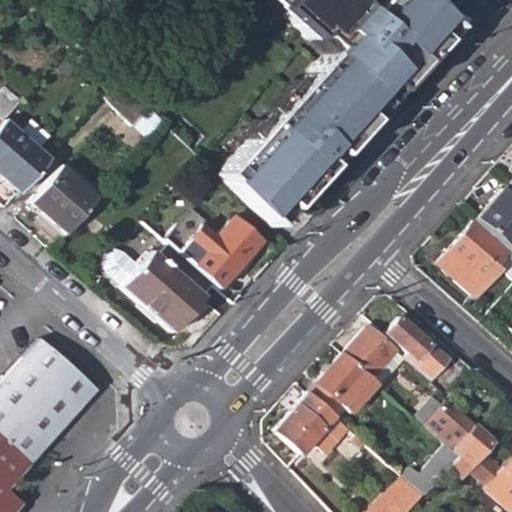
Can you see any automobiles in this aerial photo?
Yes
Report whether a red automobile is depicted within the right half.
No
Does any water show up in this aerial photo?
No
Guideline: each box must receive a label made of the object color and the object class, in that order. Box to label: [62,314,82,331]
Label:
white car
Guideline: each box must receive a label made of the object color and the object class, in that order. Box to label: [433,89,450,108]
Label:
white vehicle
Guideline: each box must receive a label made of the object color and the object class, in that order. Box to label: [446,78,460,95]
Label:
white car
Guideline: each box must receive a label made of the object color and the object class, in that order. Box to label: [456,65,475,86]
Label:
gray car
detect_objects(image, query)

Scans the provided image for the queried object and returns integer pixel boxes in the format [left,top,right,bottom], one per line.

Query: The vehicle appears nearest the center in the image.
[350,208,370,230]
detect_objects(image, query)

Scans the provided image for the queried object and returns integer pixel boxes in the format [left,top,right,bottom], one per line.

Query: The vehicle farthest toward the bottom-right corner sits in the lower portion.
[473,352,492,370]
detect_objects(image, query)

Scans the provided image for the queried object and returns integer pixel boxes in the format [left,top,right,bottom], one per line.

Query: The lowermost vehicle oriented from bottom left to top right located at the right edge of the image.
[476,178,498,198]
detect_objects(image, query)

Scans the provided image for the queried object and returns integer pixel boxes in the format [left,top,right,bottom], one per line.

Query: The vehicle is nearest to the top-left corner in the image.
[8,228,30,248]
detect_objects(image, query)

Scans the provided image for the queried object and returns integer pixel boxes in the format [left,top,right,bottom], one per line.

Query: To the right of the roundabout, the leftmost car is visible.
[230,392,248,412]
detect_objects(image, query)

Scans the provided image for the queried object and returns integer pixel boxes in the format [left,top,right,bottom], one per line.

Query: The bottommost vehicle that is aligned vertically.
[14,325,26,348]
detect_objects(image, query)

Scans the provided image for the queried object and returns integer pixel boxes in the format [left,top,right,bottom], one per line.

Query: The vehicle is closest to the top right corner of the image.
[471,50,489,70]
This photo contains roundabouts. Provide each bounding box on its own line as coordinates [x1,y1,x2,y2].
[174,401,211,438]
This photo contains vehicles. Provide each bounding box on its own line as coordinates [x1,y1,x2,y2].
[0,252,12,268]
[14,325,26,348]
[433,89,450,108]
[350,208,370,230]
[452,146,470,165]
[80,329,100,346]
[66,279,86,296]
[62,314,82,331]
[8,228,30,248]
[362,166,382,187]
[436,318,457,338]
[102,312,122,330]
[382,147,400,166]
[476,178,498,198]
[473,352,492,370]
[446,78,460,95]
[415,299,434,316]
[46,261,68,281]
[498,120,512,141]
[230,392,248,412]
[456,65,475,86]
[471,50,489,70]
[416,106,436,128]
